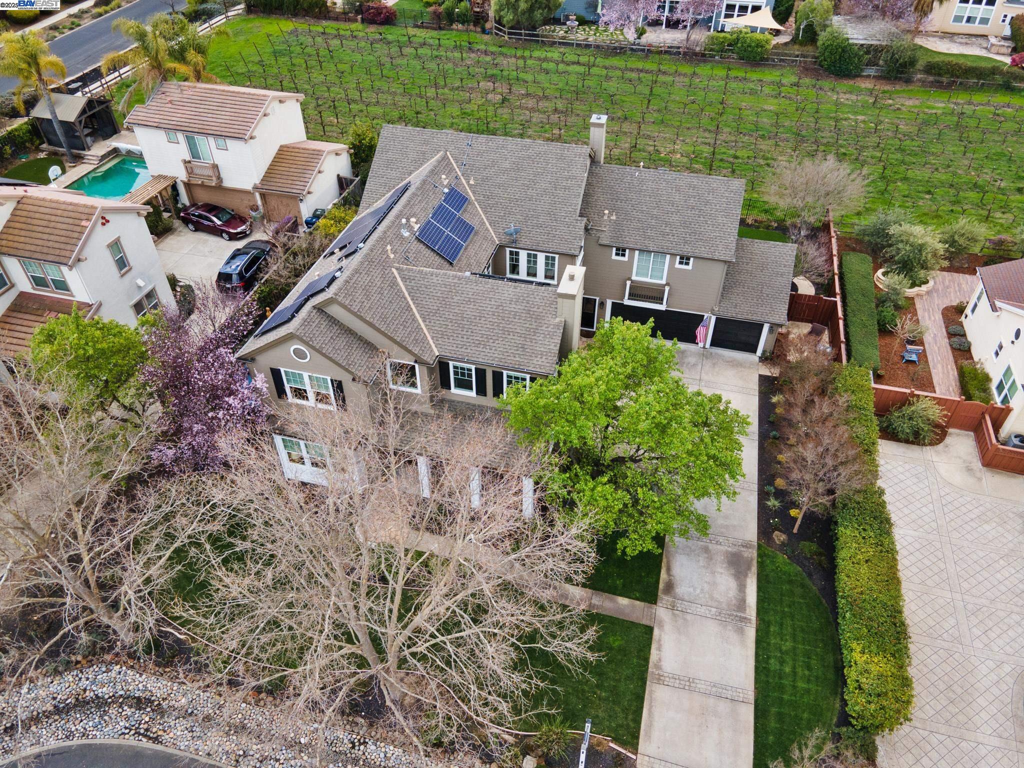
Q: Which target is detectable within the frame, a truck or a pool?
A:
pool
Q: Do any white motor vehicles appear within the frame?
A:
No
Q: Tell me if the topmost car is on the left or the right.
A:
left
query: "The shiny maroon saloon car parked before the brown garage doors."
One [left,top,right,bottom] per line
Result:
[180,204,253,241]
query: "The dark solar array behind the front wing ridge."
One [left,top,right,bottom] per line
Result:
[452,268,560,288]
